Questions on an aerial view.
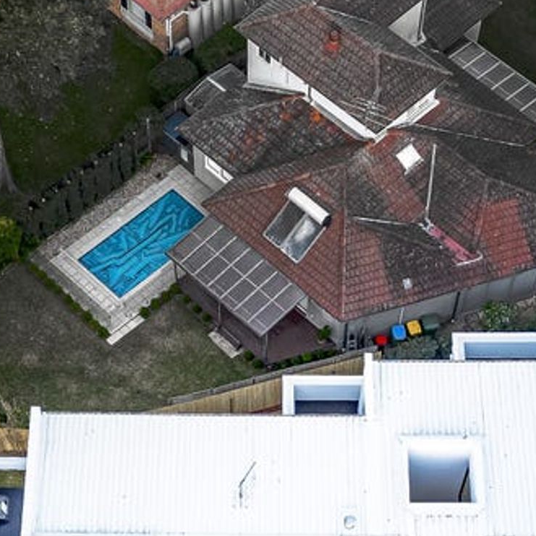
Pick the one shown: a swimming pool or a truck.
swimming pool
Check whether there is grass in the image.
Yes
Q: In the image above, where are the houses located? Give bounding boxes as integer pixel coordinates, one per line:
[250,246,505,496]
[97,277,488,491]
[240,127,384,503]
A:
[177,0,536,342]
[96,0,220,59]
[20,332,536,536]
